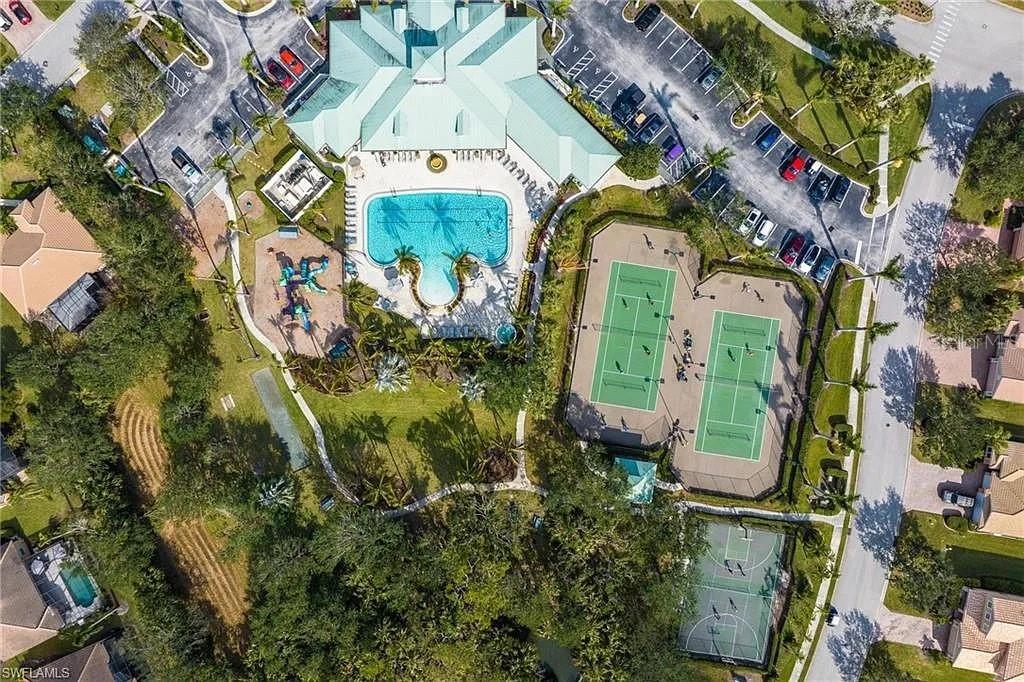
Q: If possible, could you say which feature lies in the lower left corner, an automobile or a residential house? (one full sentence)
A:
The one visible in the lower left corner is a residential house.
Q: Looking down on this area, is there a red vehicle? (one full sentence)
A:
Yes, the frame does contain a red vehicle.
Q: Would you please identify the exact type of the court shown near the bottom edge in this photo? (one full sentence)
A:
I'd identify the court shown near the bottom edge as a basketball court.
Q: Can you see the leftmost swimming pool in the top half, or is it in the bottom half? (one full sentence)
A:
It is in the bottom half that the leftmost swimming pool appears.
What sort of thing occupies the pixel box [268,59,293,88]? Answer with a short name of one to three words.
car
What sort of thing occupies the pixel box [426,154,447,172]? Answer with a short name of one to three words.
fountain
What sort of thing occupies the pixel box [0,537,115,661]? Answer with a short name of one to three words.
house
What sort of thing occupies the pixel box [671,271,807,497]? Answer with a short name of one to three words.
tennis court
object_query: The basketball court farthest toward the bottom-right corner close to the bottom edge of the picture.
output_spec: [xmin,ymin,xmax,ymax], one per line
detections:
[674,517,782,660]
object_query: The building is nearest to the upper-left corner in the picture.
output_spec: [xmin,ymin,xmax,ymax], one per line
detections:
[0,187,111,333]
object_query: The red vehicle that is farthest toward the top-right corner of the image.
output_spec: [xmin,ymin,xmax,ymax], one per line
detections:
[779,152,804,183]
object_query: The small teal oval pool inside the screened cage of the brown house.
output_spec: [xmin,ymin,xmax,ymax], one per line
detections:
[58,564,99,609]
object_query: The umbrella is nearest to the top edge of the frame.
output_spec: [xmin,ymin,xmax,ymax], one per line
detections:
[352,165,365,178]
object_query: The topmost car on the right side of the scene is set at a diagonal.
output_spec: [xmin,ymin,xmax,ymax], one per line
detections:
[634,3,660,32]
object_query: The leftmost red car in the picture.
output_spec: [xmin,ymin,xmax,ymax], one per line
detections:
[9,0,33,26]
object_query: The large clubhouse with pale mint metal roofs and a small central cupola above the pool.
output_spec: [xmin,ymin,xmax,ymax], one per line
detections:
[288,0,622,188]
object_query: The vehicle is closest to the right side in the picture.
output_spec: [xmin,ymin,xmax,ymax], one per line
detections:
[940,489,976,507]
